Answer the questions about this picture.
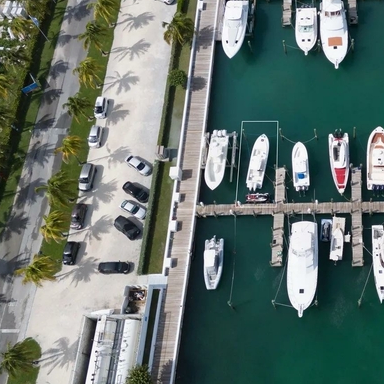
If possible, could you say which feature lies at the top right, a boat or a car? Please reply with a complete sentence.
You can see a boat at the top right.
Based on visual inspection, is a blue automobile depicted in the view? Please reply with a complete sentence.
No, I can see no blue automobile in this picture.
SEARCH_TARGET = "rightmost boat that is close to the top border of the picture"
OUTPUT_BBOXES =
[318,0,349,68]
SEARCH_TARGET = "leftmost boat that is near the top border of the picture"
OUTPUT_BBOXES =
[221,0,248,59]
